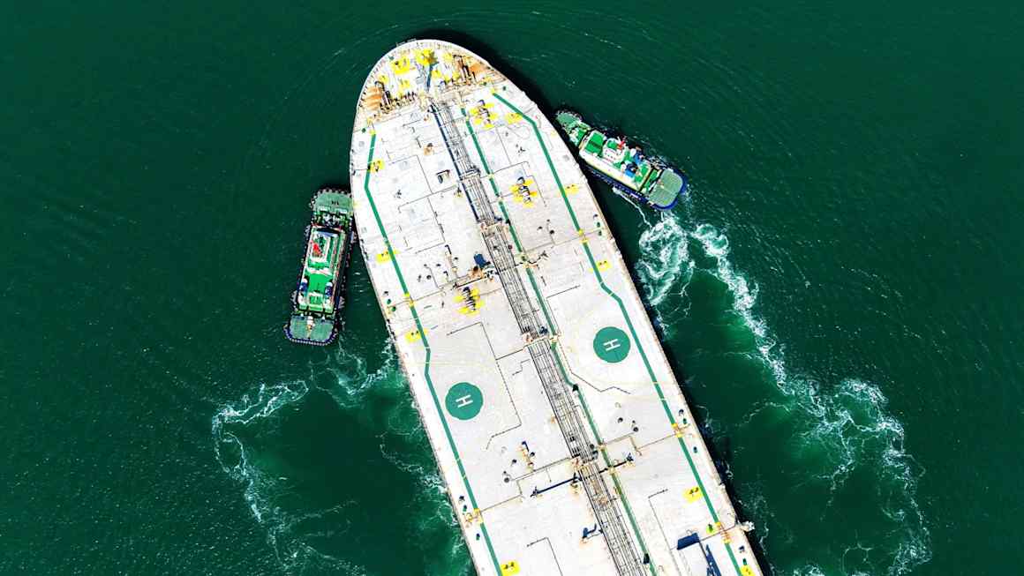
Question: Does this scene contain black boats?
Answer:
No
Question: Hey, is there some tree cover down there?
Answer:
No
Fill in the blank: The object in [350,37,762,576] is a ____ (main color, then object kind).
white ship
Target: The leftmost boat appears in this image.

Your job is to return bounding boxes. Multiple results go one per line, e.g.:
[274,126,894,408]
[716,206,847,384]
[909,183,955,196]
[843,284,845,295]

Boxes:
[289,187,355,346]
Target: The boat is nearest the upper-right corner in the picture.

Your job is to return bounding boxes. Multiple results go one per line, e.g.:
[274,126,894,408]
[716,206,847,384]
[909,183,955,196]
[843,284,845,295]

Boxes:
[551,110,691,219]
